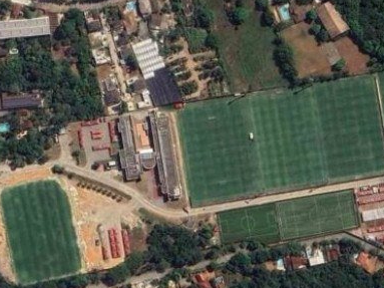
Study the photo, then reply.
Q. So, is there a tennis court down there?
No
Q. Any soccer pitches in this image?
Yes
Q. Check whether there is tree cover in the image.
Yes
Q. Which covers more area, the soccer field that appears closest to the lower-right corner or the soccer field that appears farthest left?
the soccer field that appears farthest left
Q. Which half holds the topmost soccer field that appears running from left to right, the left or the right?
right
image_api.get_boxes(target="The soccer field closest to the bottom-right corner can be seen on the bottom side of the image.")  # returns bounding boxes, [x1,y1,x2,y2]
[278,191,359,238]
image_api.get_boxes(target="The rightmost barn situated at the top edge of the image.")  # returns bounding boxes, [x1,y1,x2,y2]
[317,1,350,38]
